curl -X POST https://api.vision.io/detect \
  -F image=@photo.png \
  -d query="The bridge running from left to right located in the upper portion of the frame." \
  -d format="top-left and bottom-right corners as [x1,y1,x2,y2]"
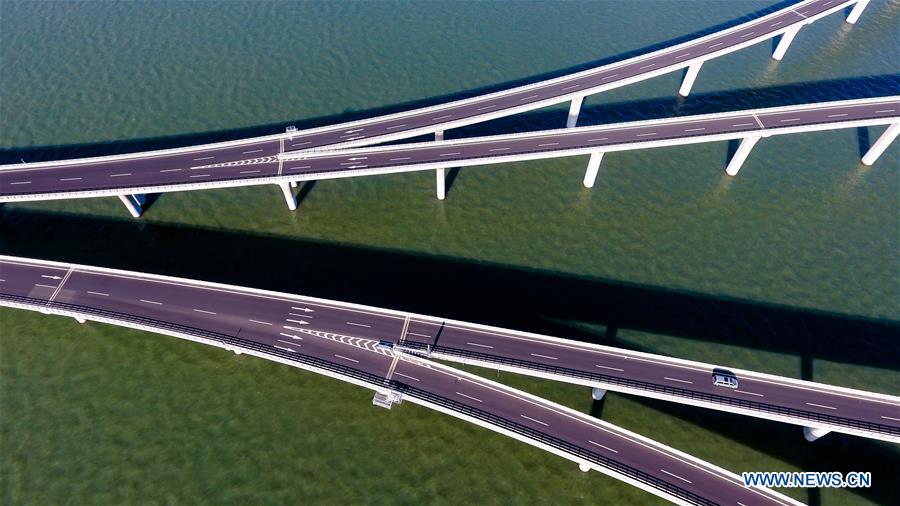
[0,0,900,217]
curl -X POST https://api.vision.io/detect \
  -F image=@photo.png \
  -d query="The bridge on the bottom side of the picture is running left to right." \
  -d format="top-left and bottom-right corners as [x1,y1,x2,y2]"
[0,256,900,506]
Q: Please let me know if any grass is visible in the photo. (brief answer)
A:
No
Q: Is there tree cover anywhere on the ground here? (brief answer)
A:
No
